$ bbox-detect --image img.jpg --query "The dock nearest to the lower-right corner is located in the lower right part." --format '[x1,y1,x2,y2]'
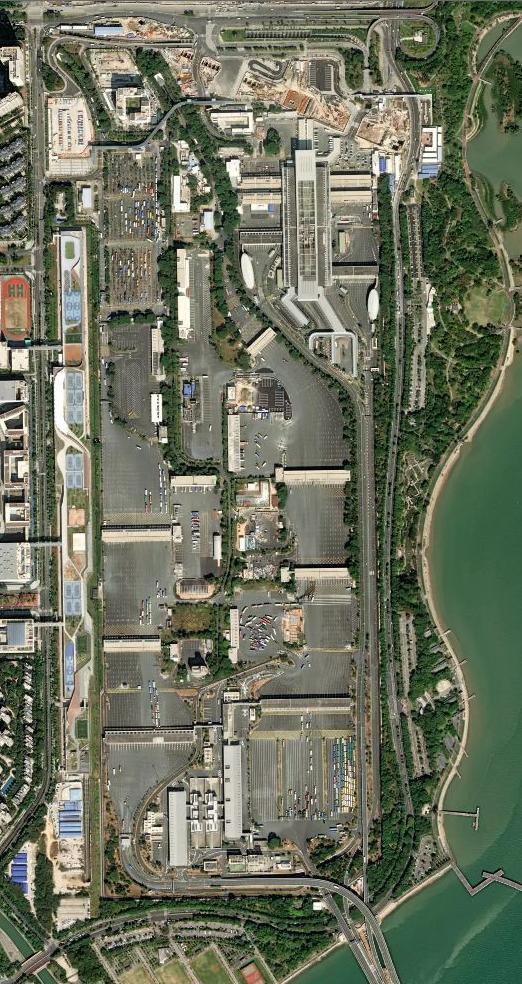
[451,861,522,895]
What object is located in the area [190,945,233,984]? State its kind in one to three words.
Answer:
sports field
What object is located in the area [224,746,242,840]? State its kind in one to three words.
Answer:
building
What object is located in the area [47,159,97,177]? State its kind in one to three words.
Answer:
shed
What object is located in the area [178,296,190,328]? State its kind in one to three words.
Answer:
building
